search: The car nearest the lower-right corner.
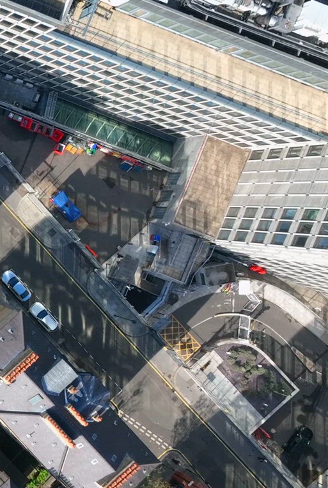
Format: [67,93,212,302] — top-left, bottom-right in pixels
[284,421,315,463]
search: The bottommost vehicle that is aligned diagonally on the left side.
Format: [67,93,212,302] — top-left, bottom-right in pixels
[28,299,62,335]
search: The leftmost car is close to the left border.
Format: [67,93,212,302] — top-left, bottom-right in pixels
[0,268,35,305]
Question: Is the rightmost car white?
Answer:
No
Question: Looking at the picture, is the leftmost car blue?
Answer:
Yes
